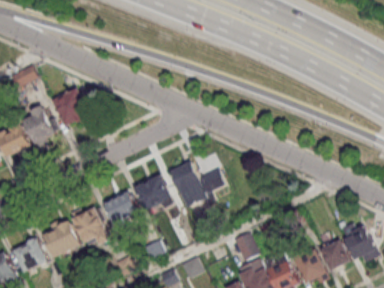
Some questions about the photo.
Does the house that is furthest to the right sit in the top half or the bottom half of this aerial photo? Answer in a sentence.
You can find the house that is furthest to the right in the bottom half.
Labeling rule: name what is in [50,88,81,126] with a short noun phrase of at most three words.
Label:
house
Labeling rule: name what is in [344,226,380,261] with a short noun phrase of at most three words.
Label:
house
